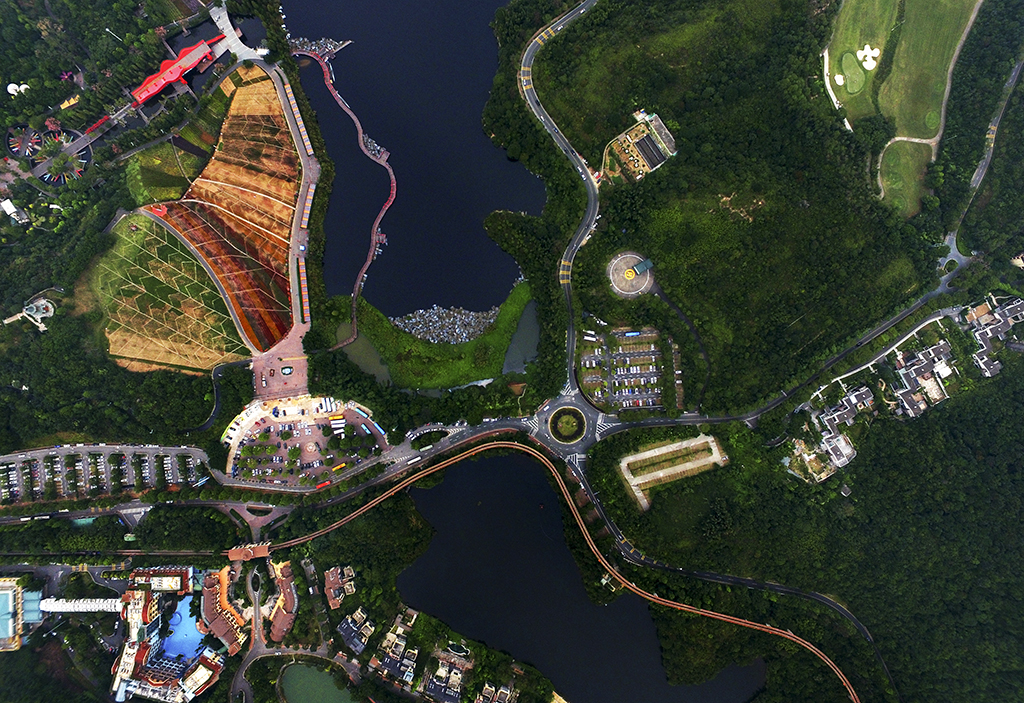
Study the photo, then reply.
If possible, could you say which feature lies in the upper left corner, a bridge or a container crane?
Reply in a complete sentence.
Looking in the upper left corner, you will find a bridge.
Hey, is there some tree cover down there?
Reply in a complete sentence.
Yes, tree cover can be seen from above here.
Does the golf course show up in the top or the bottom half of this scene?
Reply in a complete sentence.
Seen from above, the golf course lies in the top half of the view.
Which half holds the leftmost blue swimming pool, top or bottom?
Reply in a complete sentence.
It is in the bottom half that the leftmost blue swimming pool appears.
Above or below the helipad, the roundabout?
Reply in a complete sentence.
Relative to the helipad, the roundabout lies below it.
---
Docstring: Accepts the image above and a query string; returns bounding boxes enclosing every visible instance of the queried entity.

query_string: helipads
[606,251,653,298]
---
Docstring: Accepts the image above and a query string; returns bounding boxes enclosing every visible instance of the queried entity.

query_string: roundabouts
[505,374,635,470]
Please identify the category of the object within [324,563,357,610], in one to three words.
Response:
house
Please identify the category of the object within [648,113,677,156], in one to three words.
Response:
house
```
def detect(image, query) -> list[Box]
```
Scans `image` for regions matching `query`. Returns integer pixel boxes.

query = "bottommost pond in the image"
[279,663,350,703]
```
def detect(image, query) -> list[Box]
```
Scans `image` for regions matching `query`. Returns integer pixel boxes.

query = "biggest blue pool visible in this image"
[161,594,208,661]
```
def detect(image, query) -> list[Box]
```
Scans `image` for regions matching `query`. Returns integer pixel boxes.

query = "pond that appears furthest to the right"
[504,300,539,375]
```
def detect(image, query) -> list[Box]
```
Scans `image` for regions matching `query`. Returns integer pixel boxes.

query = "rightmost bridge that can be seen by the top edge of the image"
[132,34,227,110]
